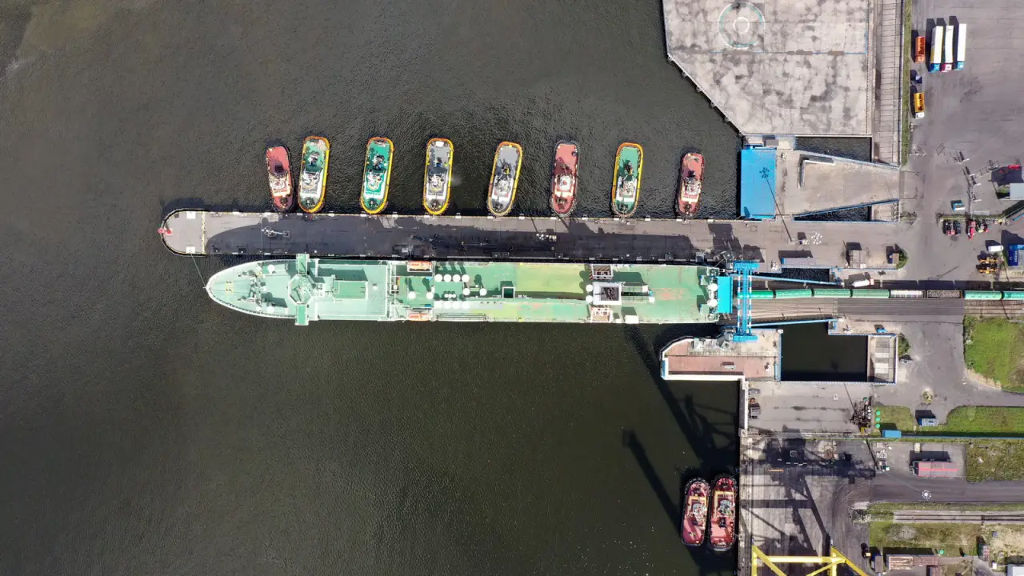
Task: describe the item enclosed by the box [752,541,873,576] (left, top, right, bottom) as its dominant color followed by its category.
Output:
yellow container crane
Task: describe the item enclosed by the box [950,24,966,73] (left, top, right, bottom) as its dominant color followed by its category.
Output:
white vehicle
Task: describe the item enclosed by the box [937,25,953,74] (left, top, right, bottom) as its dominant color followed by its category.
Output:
white vehicle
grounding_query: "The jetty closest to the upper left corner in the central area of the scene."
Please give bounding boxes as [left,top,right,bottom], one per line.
[160,208,740,275]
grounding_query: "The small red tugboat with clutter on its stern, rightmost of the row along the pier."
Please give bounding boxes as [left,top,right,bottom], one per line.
[673,152,703,219]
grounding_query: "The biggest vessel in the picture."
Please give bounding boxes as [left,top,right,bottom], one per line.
[205,254,733,325]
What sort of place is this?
port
